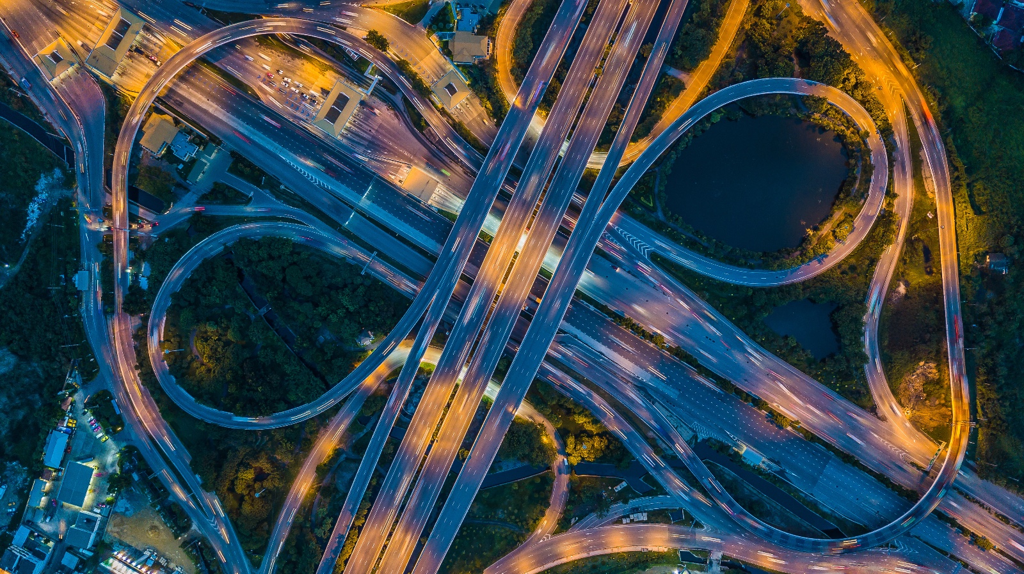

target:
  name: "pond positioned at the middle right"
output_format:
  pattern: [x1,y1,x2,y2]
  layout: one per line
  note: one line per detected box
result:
[767,299,839,359]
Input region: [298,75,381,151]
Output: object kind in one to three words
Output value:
toll station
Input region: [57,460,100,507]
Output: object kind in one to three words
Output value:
shed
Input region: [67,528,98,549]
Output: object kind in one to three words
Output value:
building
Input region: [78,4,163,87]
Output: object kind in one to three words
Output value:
toll station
